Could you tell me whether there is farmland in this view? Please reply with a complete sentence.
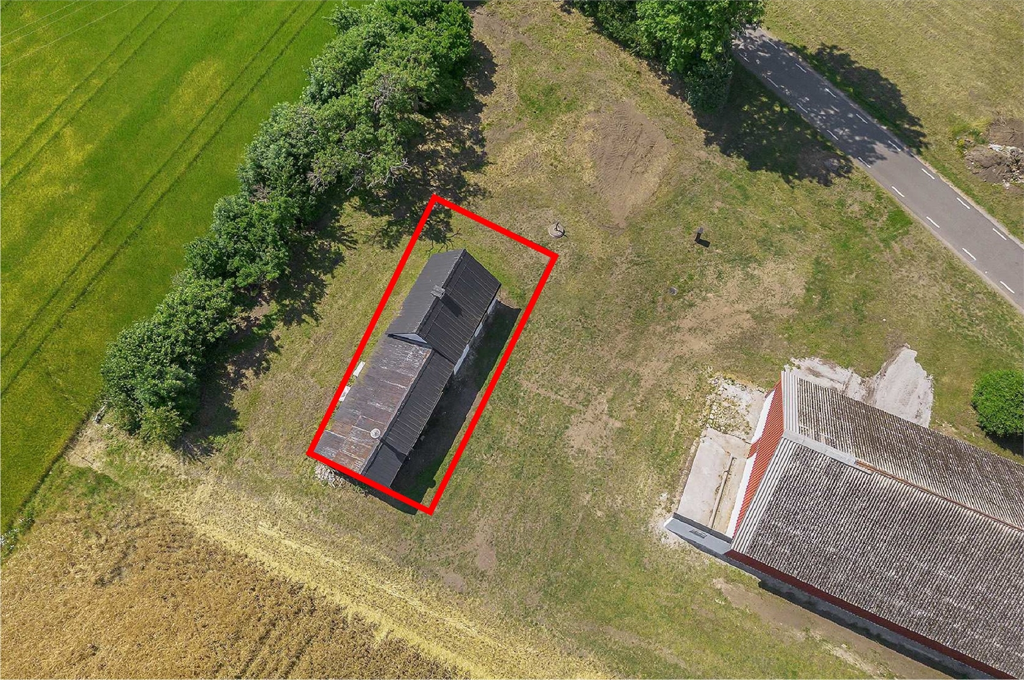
Yes, farmland can be seen from above here.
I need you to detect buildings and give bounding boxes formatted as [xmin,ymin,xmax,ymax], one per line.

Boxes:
[311,251,502,498]
[717,369,1024,680]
